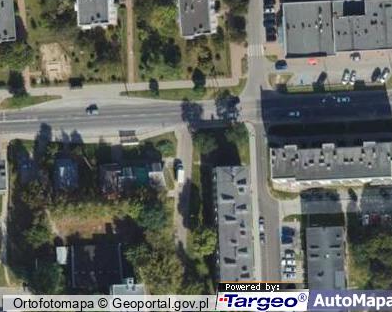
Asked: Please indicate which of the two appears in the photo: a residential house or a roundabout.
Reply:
residential house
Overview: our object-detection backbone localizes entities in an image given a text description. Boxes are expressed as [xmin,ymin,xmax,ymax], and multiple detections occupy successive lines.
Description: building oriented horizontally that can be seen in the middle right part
[269,138,392,189]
